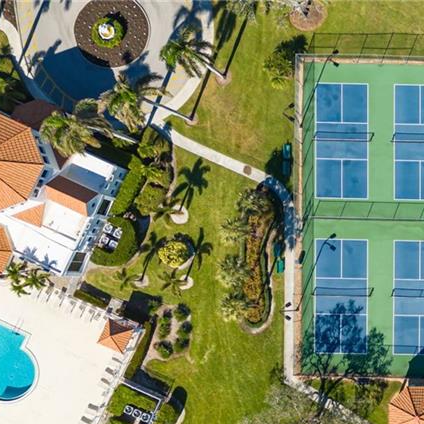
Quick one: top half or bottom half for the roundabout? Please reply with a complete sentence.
The roundabout is in the top half of the image.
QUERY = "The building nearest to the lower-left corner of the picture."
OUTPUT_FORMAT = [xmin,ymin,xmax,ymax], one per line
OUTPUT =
[97,317,144,354]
